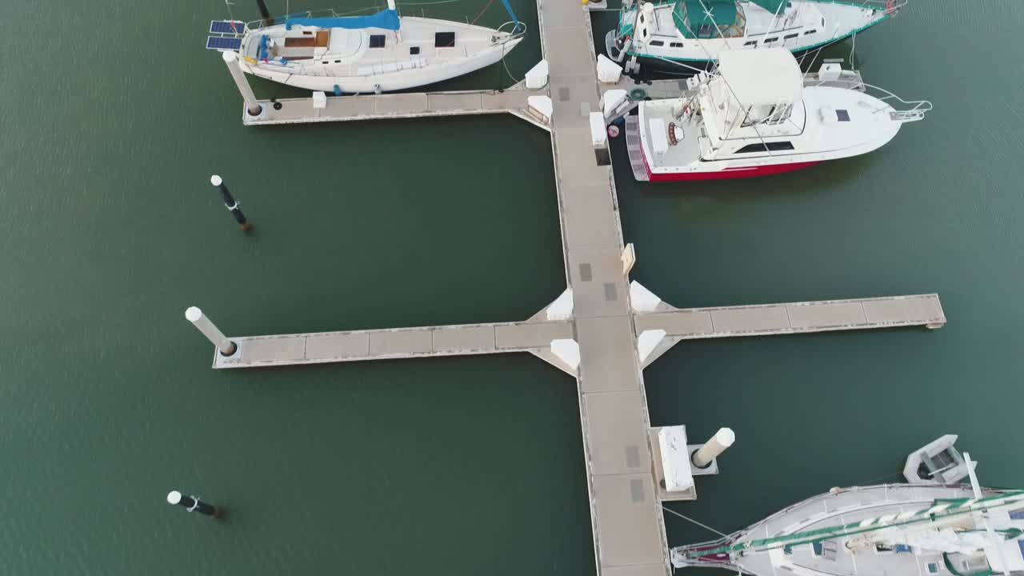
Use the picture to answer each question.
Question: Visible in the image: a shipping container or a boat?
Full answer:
This aerial view contains a boat.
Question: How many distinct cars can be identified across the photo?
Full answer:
No cars are visible.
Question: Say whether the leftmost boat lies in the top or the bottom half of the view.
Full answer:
The top half of the photo is where the leftmost boat is.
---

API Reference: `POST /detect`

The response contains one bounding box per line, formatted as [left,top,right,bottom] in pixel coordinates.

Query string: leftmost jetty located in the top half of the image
[242,67,550,134]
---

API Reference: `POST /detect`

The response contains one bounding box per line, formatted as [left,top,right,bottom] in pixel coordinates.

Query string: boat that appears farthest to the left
[205,0,528,94]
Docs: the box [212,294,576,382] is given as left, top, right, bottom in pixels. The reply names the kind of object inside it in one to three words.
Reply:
pier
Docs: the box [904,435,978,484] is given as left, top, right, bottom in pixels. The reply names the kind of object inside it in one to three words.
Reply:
boat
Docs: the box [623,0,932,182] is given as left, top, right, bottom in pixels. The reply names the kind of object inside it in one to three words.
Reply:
boat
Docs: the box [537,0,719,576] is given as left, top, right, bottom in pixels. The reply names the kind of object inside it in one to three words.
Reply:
pier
